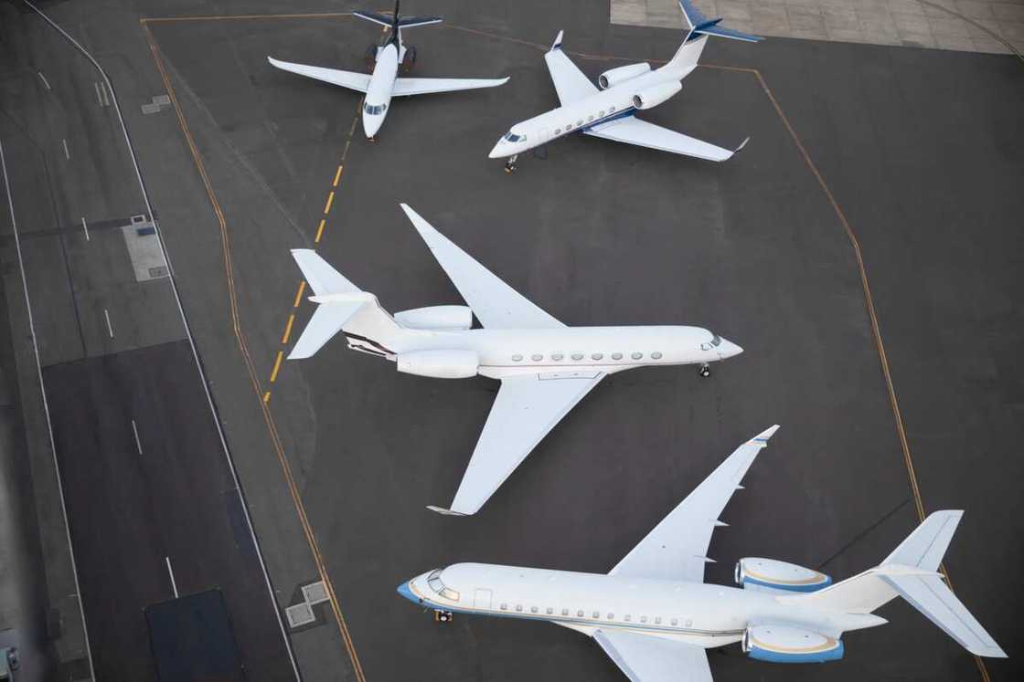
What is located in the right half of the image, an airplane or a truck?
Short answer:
airplane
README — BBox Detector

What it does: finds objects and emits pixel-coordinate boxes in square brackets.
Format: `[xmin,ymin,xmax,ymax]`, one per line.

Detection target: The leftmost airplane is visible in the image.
[269,0,511,144]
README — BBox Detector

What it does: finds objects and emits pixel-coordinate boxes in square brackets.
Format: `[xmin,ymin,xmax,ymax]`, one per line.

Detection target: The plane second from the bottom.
[287,204,744,514]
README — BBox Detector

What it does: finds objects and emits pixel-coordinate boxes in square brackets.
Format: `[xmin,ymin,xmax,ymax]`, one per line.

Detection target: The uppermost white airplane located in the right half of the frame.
[489,0,764,171]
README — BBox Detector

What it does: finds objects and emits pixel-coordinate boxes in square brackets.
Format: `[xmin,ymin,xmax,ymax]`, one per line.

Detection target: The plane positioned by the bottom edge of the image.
[397,425,1007,682]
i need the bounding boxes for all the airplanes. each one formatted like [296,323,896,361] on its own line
[269,0,511,144]
[489,0,764,171]
[287,204,744,514]
[397,425,1007,682]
